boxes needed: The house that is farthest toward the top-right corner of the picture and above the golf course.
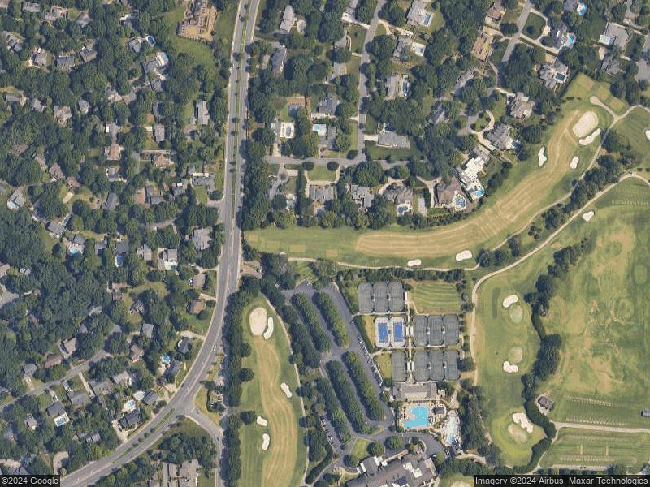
[607,23,631,46]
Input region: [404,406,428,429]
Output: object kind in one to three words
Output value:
swimming pool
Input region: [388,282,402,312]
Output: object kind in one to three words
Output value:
tennis court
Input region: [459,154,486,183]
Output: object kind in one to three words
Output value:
house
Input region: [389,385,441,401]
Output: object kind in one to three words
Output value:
building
